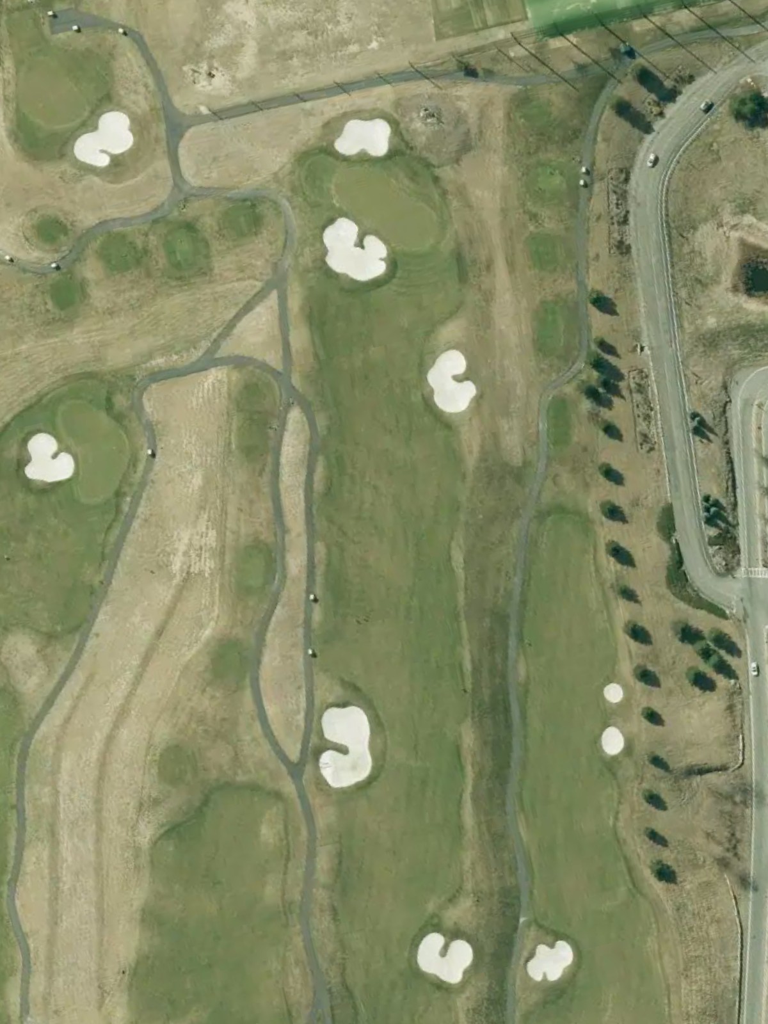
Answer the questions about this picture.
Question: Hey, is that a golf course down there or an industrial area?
golf course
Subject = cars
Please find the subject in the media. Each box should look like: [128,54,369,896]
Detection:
[751,661,758,676]
[647,153,657,168]
[698,99,712,112]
